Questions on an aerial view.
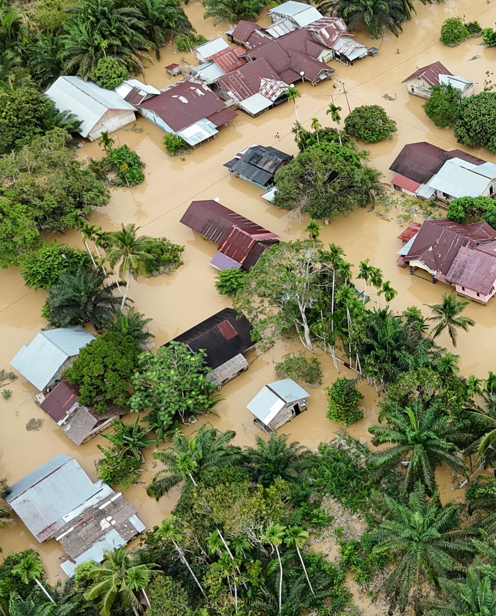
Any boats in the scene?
No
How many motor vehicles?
0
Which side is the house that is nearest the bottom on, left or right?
left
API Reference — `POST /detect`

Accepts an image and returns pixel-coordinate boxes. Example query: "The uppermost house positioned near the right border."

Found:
[409,61,473,98]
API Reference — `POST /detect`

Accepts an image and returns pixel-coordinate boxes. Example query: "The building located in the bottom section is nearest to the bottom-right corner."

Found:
[248,379,309,436]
